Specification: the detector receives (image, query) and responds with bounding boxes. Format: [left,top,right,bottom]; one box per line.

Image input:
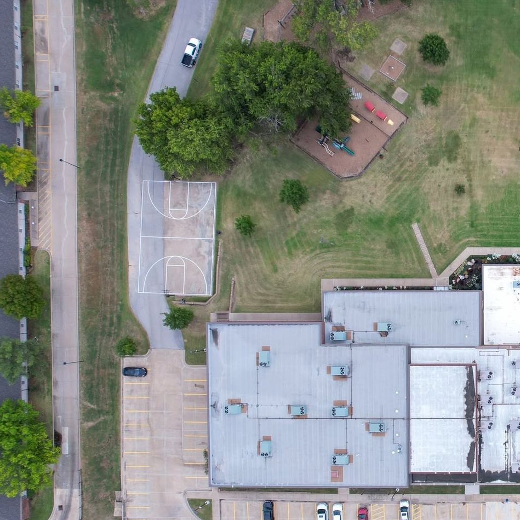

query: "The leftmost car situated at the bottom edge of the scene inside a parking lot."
[262,500,274,520]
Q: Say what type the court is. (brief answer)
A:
basketball court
